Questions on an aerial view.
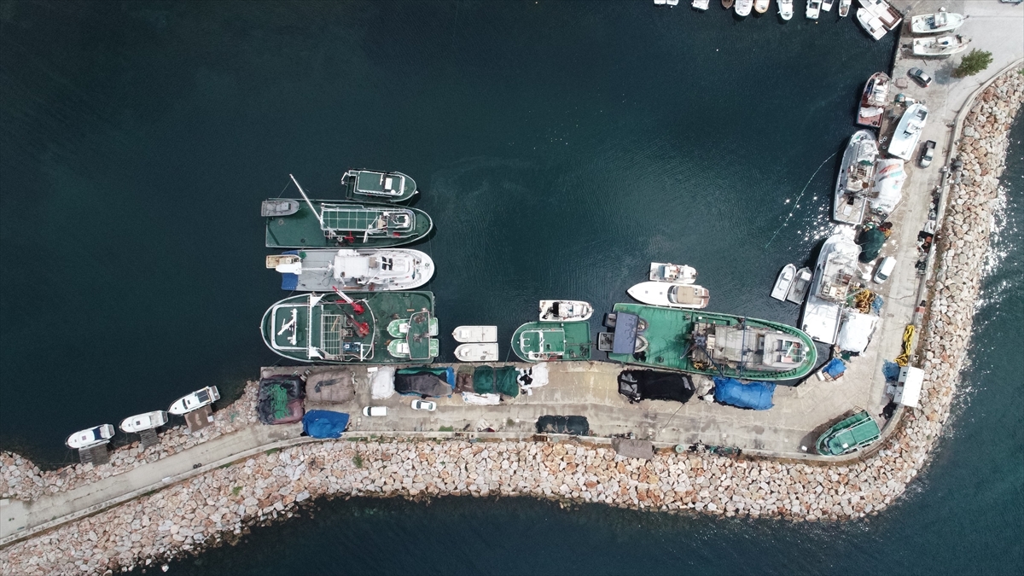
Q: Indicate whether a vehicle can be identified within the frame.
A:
Yes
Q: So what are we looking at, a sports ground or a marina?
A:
marina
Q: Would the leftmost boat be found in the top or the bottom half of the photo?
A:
bottom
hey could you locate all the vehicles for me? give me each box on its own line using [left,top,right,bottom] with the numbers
[918,140,937,169]
[411,398,437,410]
[873,256,898,284]
[363,405,389,417]
[905,67,932,89]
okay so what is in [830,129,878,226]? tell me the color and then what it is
white boat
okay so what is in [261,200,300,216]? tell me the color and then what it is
gray boat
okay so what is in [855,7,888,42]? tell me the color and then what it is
white boat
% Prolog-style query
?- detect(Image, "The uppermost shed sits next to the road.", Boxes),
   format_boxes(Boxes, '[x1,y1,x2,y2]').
[892,366,924,407]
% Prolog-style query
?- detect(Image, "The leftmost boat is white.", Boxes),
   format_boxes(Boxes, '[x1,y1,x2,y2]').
[64,420,123,449]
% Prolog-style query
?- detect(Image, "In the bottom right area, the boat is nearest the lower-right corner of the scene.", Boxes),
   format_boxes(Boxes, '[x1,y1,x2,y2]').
[816,406,880,454]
